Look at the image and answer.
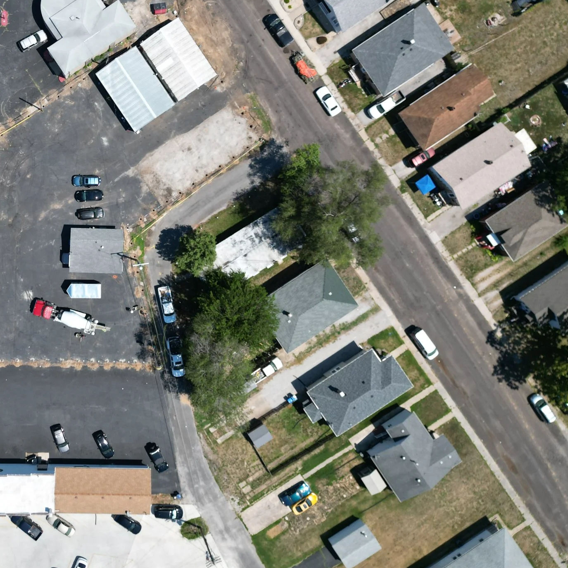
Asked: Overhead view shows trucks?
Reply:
Yes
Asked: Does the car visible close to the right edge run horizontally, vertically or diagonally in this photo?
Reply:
diagonally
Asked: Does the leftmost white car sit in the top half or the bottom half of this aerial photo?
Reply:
top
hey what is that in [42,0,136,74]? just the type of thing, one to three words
building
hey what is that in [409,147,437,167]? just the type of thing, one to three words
car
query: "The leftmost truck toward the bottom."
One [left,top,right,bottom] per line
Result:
[8,516,43,543]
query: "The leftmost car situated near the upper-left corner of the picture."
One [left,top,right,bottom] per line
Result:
[16,31,49,52]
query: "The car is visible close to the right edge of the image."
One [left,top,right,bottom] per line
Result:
[528,390,558,426]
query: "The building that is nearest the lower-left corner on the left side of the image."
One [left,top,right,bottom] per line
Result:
[0,460,152,518]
